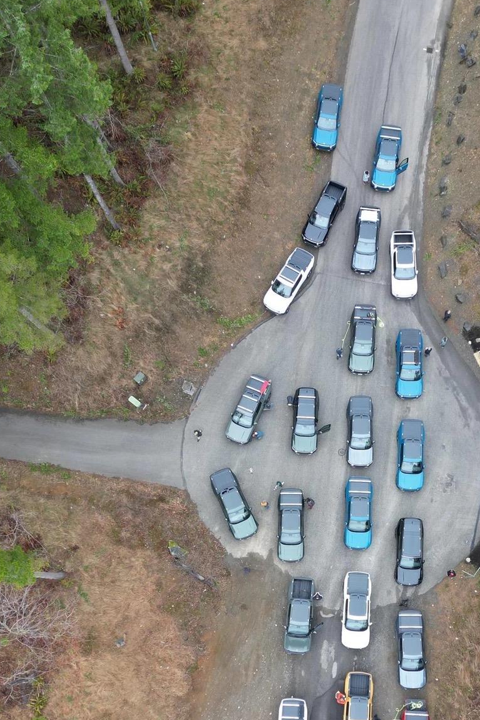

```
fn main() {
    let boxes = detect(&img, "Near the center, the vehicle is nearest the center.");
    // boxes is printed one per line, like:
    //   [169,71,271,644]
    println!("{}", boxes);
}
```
[227,373,270,447]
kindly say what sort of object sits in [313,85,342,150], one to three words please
truck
